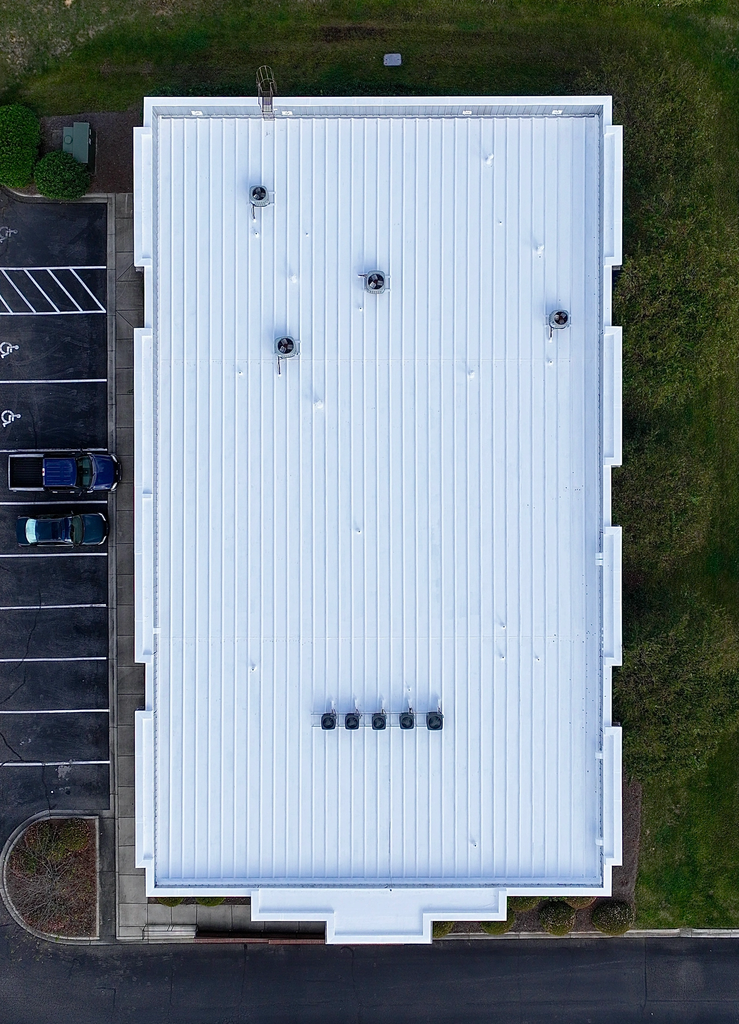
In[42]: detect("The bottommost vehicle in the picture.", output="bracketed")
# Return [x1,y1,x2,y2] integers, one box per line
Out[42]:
[16,510,111,550]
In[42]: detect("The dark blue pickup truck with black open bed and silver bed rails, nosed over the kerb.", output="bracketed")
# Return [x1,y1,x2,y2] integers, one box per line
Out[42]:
[7,448,124,497]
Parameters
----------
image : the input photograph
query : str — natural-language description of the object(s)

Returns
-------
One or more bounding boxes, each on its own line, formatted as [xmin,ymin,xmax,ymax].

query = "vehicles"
[16,510,111,550]
[7,448,124,497]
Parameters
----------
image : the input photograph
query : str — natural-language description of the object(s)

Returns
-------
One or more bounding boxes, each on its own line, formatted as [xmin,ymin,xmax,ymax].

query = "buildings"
[134,96,623,944]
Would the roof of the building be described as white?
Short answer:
Yes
